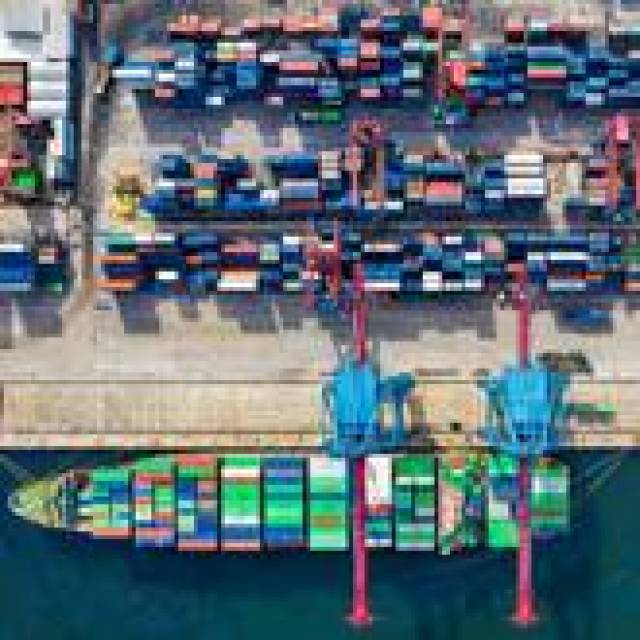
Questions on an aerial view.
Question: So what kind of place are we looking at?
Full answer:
What you see here is a port.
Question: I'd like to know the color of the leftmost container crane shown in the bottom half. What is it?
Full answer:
The color of the leftmost container crane shown in the bottom half is blue.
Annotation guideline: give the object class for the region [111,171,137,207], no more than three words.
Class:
work vehicle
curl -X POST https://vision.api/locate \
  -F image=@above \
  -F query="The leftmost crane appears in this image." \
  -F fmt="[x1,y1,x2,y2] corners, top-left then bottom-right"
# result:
[308,221,341,304]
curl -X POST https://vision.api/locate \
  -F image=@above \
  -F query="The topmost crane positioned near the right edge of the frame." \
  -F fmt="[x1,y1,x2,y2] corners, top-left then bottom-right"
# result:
[581,108,636,218]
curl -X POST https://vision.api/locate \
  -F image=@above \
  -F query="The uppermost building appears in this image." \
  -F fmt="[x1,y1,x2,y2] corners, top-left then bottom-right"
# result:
[0,0,80,72]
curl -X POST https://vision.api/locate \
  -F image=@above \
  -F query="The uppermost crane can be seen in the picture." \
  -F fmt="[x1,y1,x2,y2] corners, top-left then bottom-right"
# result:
[424,8,466,118]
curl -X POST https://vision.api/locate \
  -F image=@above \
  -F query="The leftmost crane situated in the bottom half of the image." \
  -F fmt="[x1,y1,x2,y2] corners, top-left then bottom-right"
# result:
[312,262,418,621]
